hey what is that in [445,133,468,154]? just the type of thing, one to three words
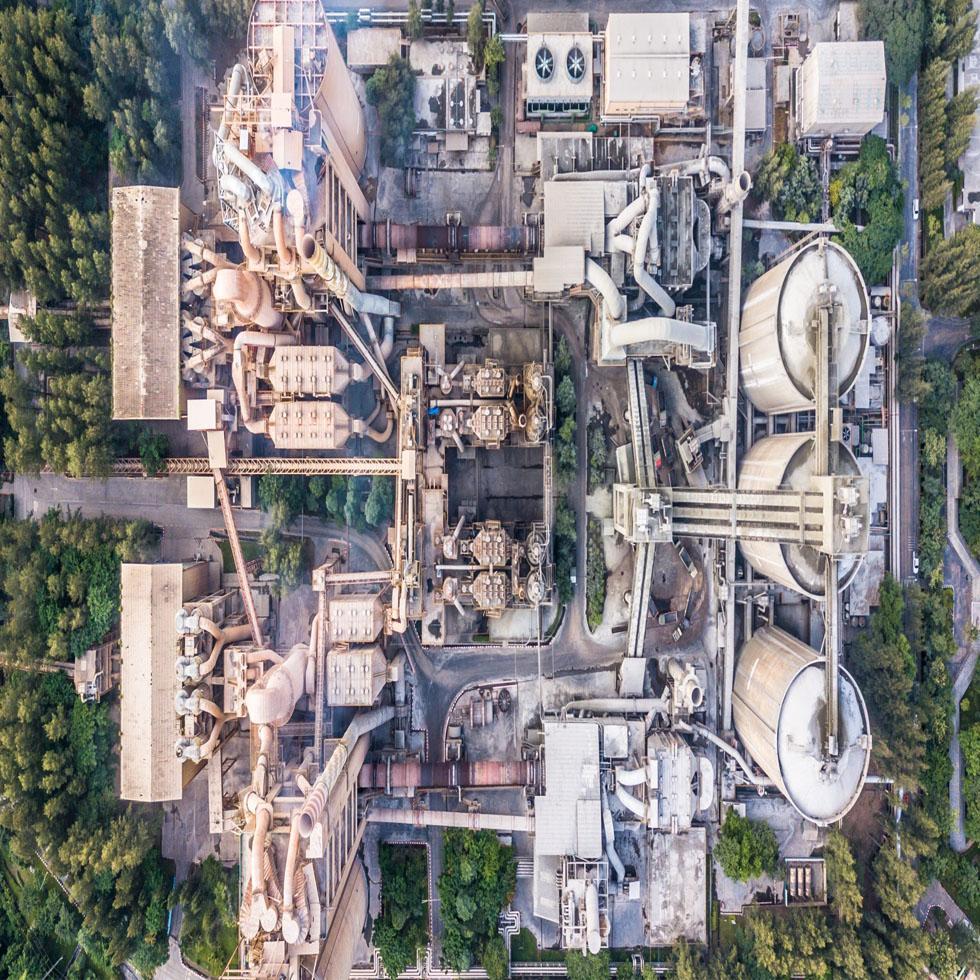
shed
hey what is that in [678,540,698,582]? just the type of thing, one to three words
vehicle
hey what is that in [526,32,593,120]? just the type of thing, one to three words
cooling tower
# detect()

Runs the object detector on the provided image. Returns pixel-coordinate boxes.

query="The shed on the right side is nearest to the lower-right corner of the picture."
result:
[798,814,818,840]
